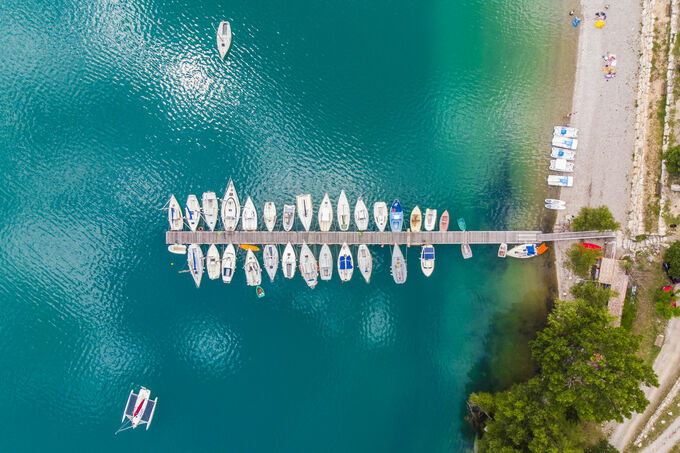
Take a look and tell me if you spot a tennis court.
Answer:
No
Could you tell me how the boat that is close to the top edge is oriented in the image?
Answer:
up and down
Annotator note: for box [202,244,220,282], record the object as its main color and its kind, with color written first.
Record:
white boat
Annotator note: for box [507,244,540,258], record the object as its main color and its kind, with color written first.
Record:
white boat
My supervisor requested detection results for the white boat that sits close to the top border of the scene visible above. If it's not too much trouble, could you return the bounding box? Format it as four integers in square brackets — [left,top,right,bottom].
[212,18,232,60]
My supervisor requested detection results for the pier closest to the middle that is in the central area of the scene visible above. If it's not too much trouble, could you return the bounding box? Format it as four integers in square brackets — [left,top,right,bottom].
[165,230,541,244]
